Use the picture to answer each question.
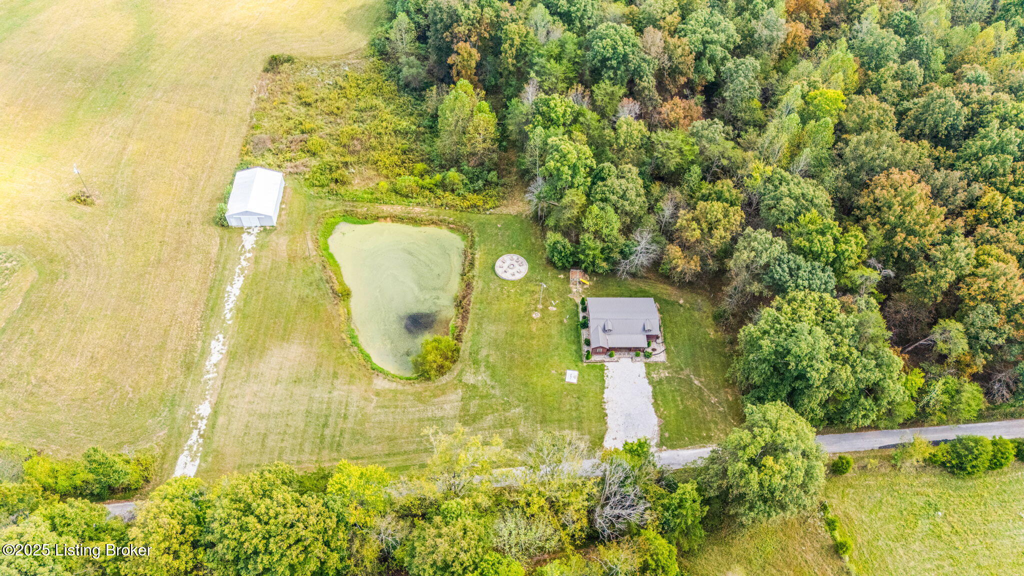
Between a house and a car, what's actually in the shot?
house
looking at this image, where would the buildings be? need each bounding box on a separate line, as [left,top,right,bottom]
[224,166,285,227]
[587,298,660,355]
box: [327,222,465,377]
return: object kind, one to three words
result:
pond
